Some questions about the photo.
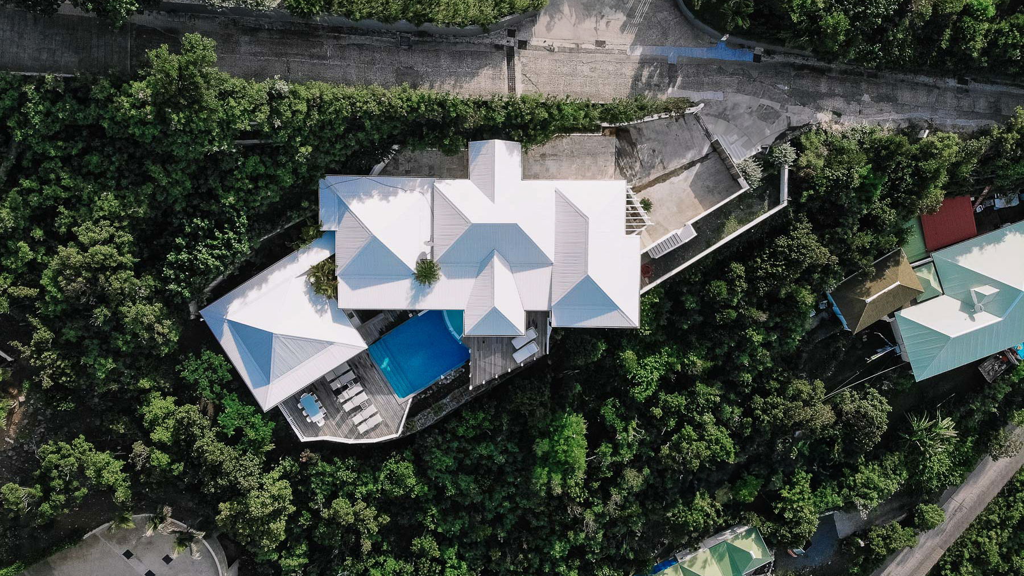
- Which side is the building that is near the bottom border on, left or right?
right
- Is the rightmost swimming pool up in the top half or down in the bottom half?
bottom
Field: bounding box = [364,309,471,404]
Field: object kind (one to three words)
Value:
swimming pool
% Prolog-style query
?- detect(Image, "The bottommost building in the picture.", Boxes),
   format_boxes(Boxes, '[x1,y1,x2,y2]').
[653,523,773,576]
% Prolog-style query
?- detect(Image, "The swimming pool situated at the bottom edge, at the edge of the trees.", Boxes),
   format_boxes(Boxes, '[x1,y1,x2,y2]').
[645,552,677,576]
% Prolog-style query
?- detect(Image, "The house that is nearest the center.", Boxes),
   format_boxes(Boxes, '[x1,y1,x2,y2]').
[317,140,642,338]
